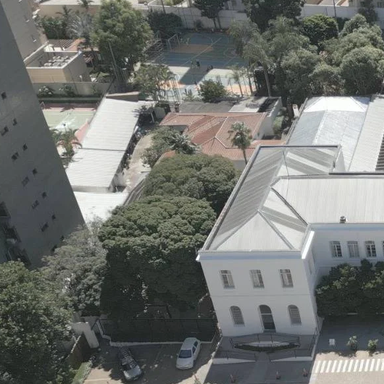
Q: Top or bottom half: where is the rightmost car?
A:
bottom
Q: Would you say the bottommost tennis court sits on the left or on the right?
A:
left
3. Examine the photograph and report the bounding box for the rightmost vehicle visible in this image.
[168,333,203,369]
